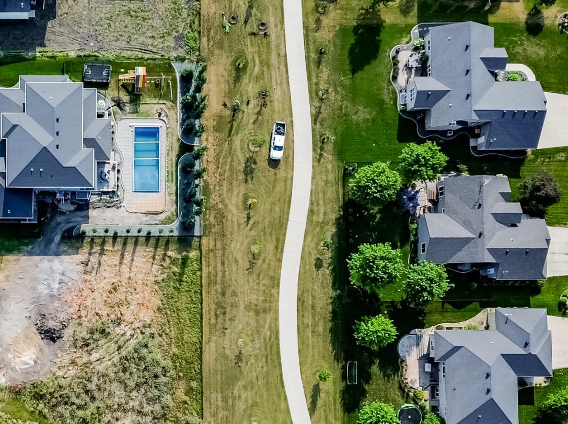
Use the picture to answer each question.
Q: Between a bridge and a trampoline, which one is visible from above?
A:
trampoline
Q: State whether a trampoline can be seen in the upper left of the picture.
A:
Yes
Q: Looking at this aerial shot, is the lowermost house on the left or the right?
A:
right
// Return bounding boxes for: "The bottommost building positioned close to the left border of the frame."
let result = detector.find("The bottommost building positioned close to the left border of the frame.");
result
[0,75,113,218]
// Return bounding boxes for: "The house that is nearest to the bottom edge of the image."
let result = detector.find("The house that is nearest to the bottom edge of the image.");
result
[423,307,553,424]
